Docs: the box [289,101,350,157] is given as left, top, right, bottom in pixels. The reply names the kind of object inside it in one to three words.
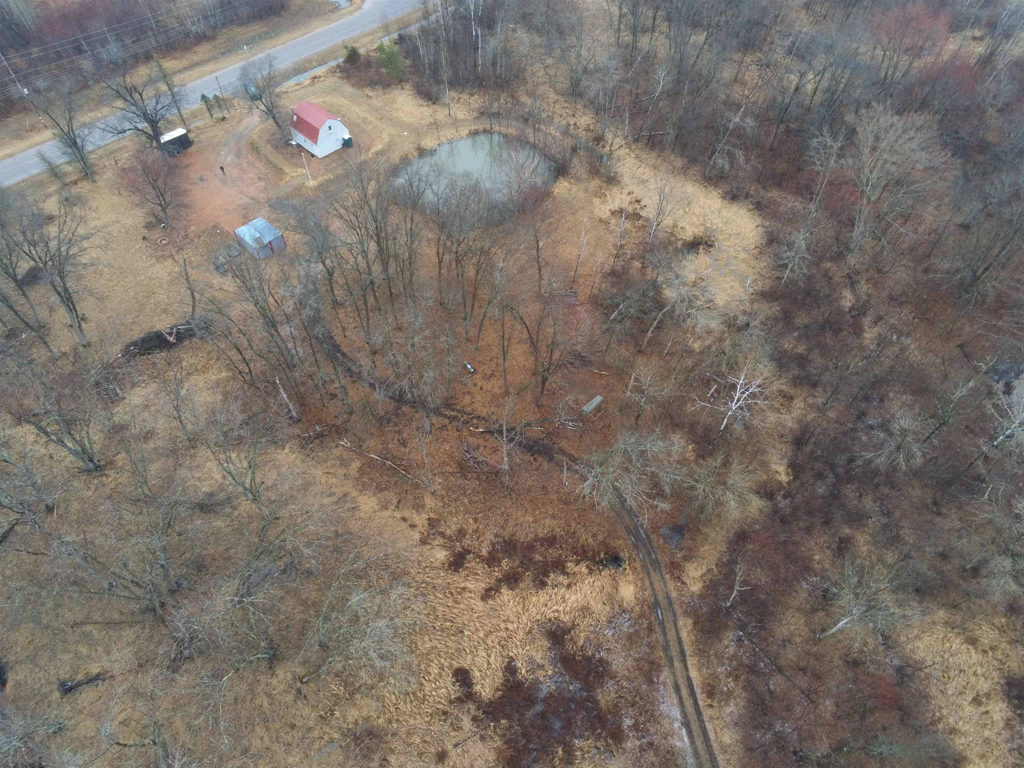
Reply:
house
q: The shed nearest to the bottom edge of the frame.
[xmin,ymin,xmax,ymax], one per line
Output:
[237,218,286,260]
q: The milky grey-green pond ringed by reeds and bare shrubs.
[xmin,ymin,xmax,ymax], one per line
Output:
[392,133,555,221]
